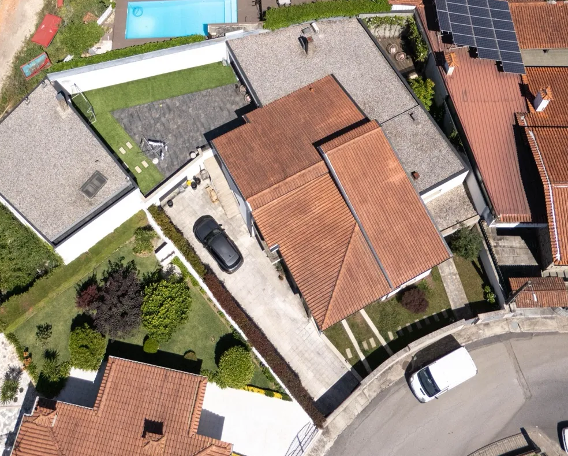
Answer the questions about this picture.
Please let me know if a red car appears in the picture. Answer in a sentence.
No, I can see no red car in this picture.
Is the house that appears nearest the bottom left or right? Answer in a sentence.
The house that appears nearest the bottom is on the left side of the image.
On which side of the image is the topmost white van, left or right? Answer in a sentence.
The topmost white van sits on the right side.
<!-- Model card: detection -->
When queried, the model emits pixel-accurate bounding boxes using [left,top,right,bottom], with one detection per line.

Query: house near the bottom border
[12,355,232,456]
